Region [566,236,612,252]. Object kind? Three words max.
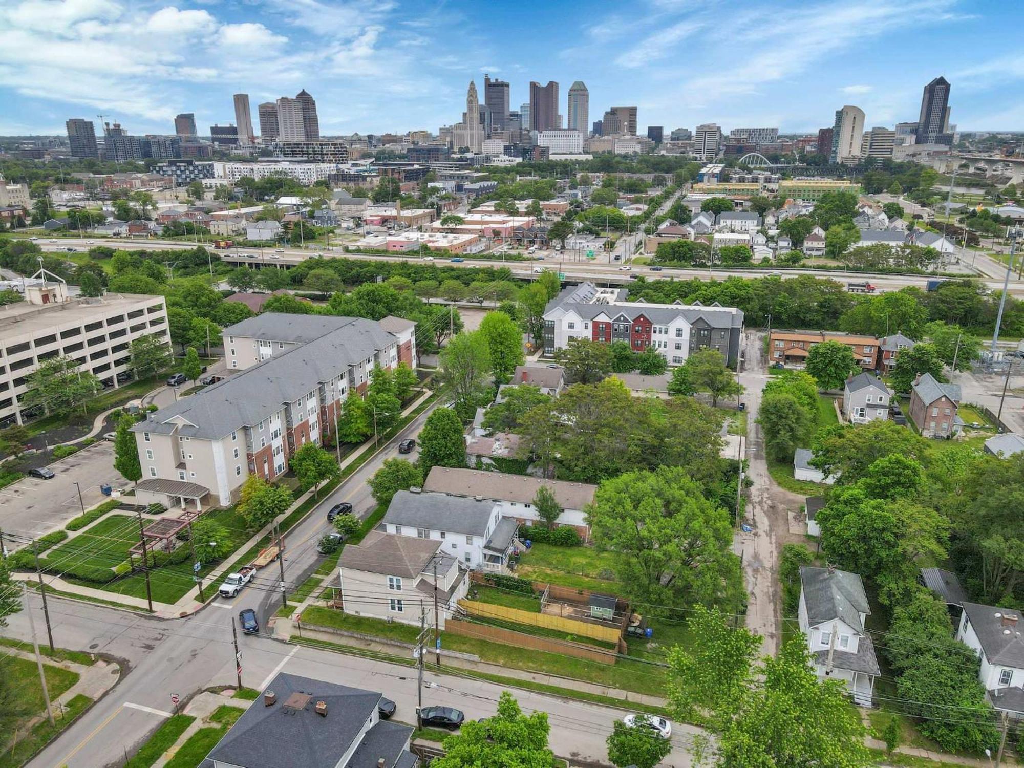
building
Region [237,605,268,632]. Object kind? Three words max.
car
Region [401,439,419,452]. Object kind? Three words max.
vehicle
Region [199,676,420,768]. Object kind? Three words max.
house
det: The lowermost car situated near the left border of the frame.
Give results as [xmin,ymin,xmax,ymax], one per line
[32,465,51,478]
